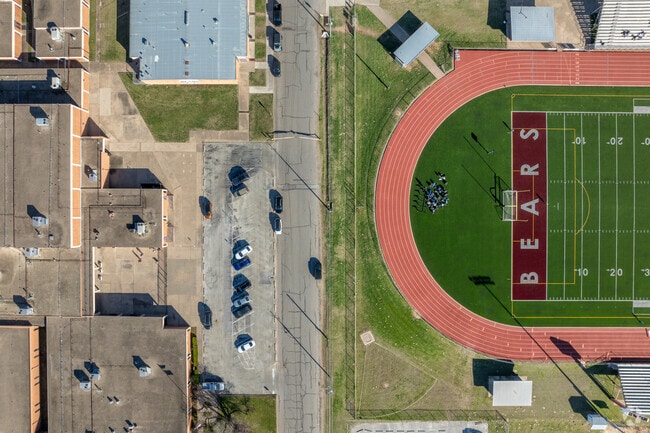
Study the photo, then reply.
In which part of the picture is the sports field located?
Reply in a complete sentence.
You can find the sports field in the right area of the picture.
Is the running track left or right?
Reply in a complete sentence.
You can find the running track on the right side of the picture.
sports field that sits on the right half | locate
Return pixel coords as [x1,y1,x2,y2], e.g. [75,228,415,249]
[411,86,650,326]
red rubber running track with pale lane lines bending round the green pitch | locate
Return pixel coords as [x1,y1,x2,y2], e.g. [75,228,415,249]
[375,48,650,363]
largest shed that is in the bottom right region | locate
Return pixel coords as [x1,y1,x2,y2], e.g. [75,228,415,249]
[489,378,532,406]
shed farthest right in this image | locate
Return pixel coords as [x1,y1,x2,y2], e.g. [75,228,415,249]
[584,411,607,430]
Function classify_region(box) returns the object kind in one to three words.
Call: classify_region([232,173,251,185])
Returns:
vehicle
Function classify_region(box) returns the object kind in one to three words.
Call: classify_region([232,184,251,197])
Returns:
vehicle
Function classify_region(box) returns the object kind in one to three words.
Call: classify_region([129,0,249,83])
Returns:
building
